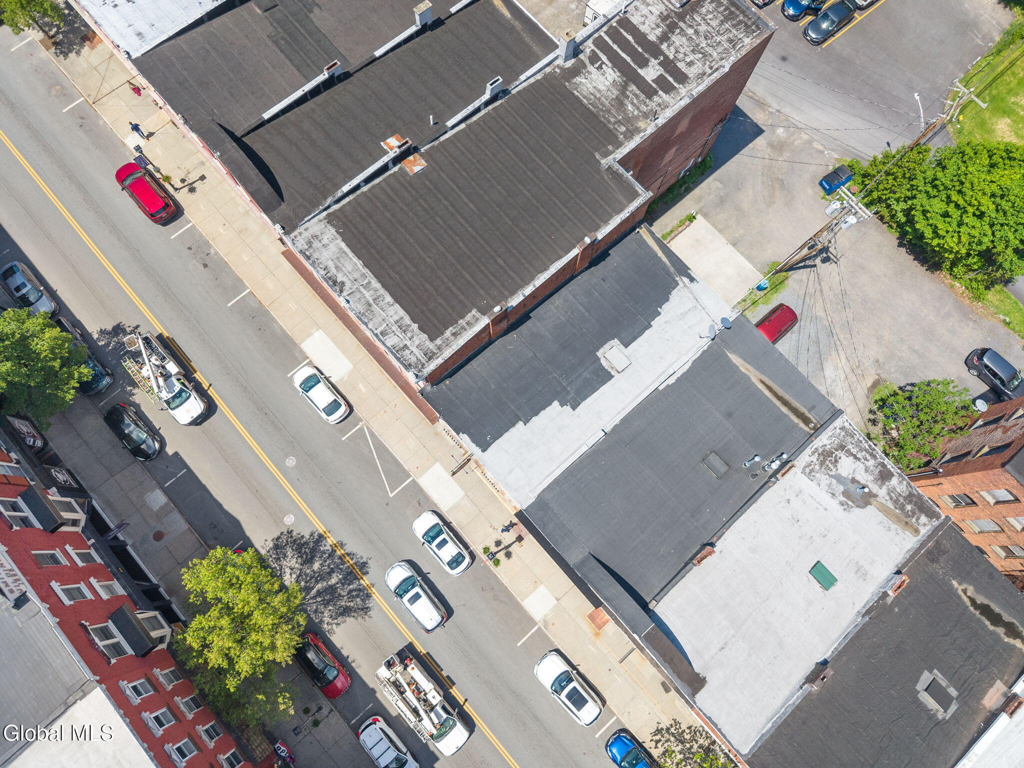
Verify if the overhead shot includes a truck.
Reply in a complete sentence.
Yes, the frame does contain a truck.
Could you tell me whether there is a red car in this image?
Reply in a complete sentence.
Yes, the photo shows a red car.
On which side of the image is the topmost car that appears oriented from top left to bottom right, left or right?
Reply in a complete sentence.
You can find the topmost car that appears oriented from top left to bottom right on the left side of the picture.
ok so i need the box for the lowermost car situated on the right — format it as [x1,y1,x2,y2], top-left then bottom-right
[602,723,662,768]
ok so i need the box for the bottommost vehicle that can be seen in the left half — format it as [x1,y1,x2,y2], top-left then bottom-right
[358,715,429,768]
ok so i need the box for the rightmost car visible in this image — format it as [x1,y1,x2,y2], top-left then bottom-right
[963,348,1024,408]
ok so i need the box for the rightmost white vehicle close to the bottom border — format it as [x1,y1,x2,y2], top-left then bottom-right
[531,646,607,732]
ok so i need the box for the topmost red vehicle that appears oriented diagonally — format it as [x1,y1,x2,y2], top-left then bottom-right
[114,161,178,228]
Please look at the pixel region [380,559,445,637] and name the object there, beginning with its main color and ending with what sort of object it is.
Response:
white car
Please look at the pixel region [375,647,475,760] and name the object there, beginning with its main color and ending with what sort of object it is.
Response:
white truck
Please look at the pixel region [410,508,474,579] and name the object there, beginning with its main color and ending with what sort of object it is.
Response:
white car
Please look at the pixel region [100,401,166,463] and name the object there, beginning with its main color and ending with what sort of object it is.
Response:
black car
